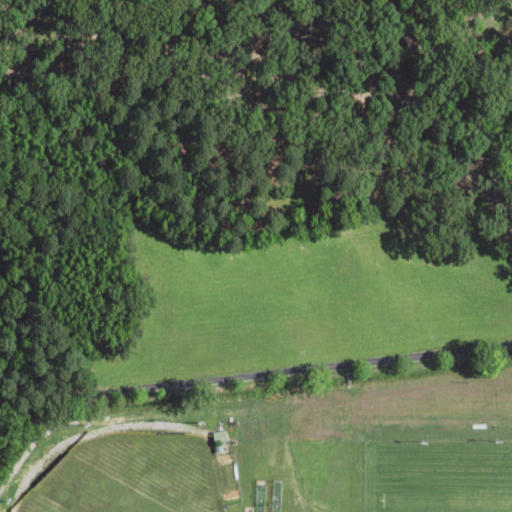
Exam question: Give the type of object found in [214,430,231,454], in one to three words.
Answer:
building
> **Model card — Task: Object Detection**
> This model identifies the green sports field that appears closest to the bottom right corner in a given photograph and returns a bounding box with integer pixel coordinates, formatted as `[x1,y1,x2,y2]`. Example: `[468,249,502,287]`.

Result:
[366,442,512,512]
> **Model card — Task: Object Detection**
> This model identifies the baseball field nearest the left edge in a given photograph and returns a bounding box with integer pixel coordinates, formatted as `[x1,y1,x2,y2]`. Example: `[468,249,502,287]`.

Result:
[10,422,225,512]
